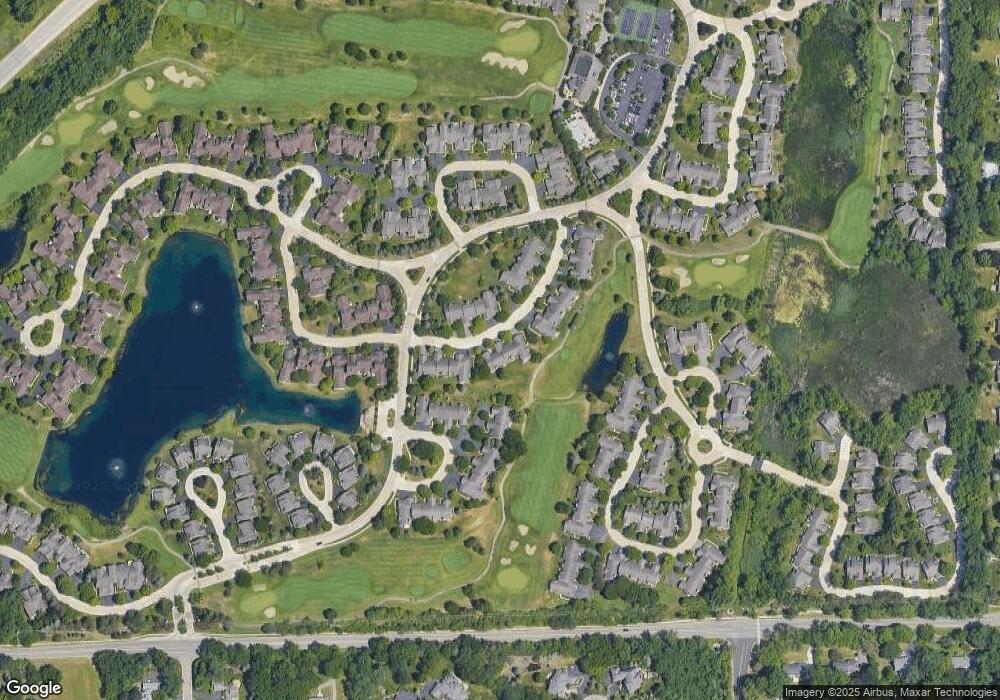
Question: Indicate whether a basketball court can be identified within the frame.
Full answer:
No, I can't see a single basketball court in this photo.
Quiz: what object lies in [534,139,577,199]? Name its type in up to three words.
house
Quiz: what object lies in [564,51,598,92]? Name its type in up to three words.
building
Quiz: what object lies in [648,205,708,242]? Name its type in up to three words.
house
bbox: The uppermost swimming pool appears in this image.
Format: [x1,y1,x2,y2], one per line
[566,110,599,149]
